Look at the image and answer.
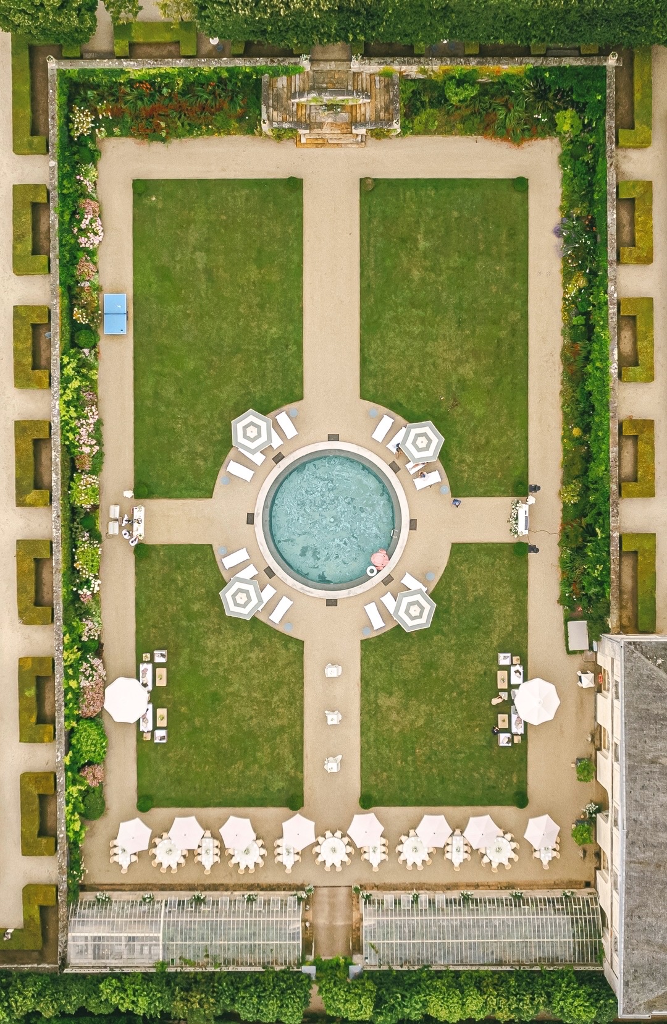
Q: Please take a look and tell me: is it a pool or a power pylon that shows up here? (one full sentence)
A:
There is a pool in the scene.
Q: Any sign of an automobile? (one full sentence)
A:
No, I find no automobile anywhere in the image.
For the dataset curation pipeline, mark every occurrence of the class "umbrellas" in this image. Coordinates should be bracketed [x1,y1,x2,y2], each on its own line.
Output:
[166,815,205,850]
[523,812,560,850]
[231,409,271,454]
[512,676,559,723]
[281,813,315,852]
[115,815,153,854]
[124,490,135,500]
[219,576,263,619]
[414,813,452,848]
[524,495,536,505]
[463,813,501,850]
[392,587,436,631]
[346,812,384,849]
[398,421,443,463]
[218,815,257,850]
[105,674,152,722]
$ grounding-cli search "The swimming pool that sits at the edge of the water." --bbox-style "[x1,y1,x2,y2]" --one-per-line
[255,443,410,597]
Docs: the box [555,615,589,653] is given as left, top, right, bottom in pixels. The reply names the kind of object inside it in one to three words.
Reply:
shed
